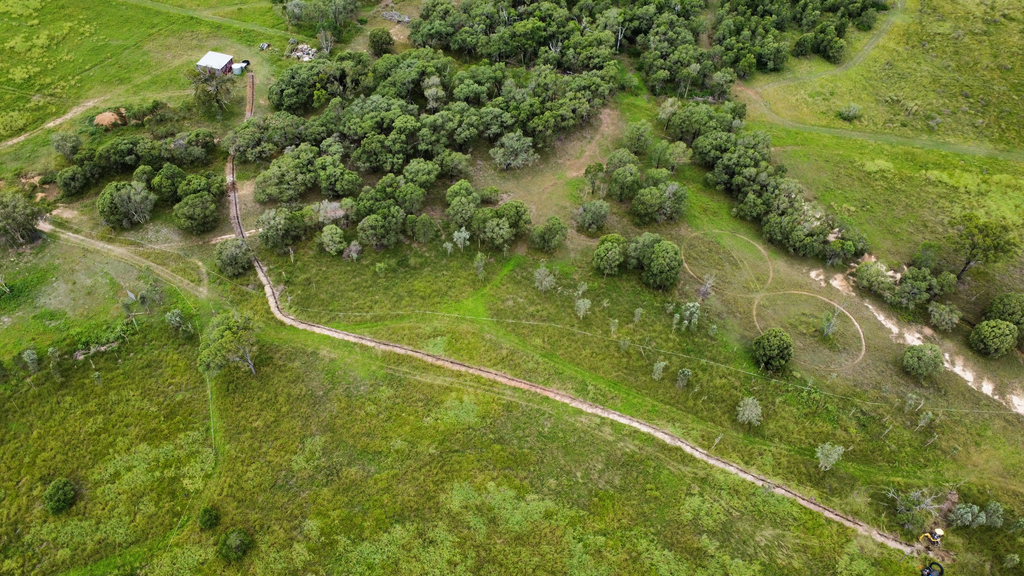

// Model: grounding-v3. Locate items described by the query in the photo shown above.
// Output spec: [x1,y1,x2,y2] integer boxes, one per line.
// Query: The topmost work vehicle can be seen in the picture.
[918,528,948,551]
